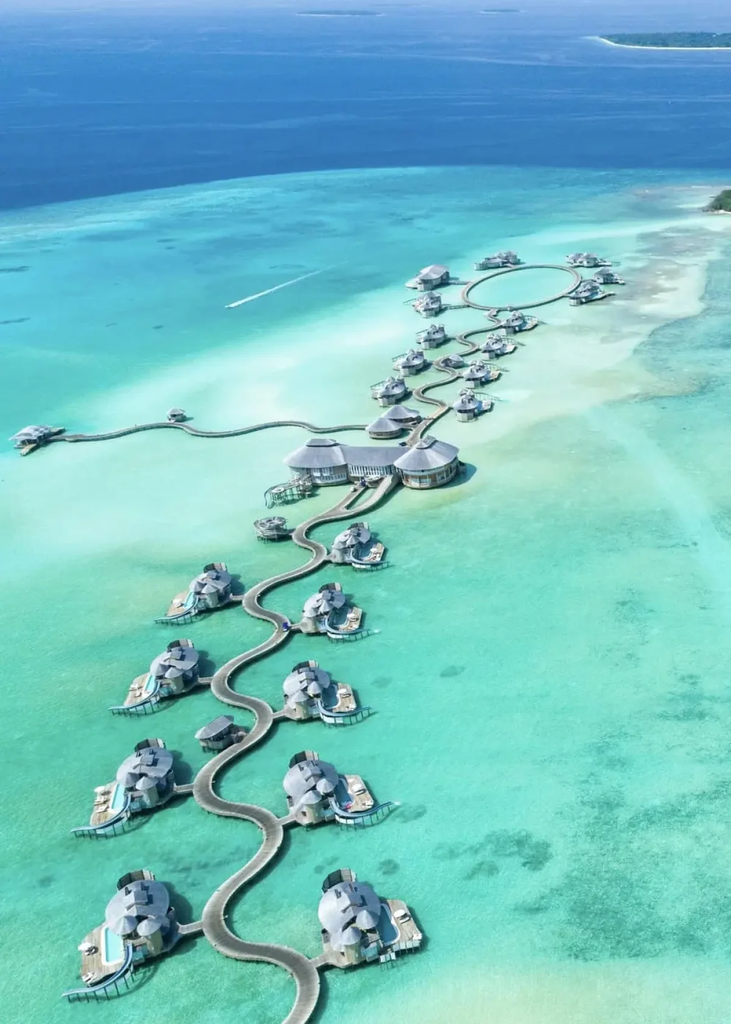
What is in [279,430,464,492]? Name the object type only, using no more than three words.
building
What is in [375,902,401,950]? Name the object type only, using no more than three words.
swimming pool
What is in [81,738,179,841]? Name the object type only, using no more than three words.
house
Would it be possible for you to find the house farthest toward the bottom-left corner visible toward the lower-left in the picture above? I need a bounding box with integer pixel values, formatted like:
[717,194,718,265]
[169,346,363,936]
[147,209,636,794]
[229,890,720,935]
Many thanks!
[62,864,178,999]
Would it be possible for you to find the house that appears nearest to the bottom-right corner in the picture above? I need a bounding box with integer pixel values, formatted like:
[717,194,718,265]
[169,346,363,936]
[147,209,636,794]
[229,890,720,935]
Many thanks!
[318,868,422,977]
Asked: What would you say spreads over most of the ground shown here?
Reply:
water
